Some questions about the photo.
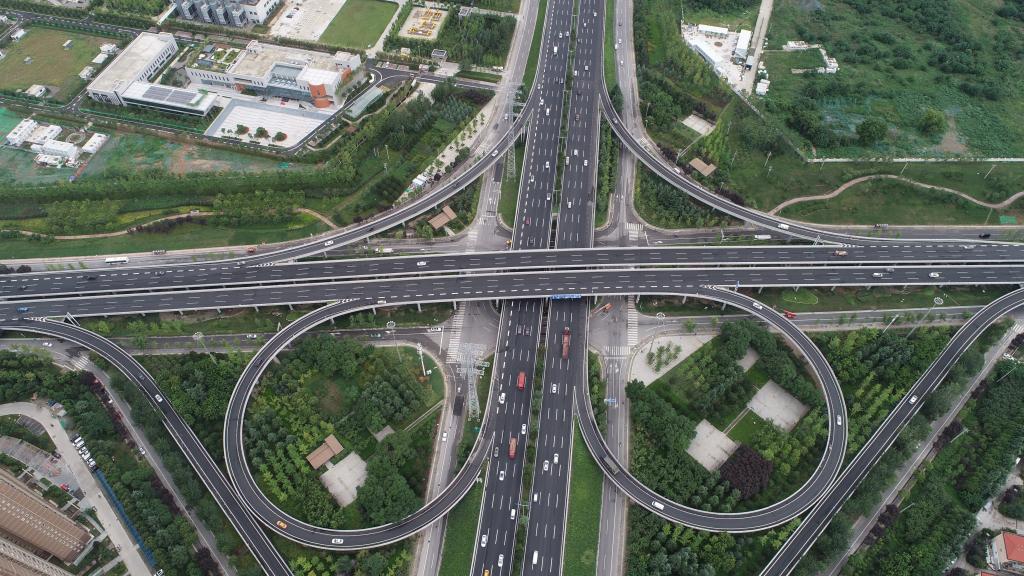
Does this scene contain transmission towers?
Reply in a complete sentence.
Yes, the photo shows a transmission tower.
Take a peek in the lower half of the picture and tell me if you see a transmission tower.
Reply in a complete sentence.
Yes, looking in the lower half of the picture, one can make out a transmission tower.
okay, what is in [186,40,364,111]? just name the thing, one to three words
building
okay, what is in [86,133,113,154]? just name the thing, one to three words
building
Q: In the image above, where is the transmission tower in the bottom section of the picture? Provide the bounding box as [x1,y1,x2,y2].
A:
[451,335,485,420]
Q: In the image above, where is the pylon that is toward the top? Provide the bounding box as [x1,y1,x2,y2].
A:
[499,82,524,181]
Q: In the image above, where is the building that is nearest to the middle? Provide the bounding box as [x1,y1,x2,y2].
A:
[429,206,454,233]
